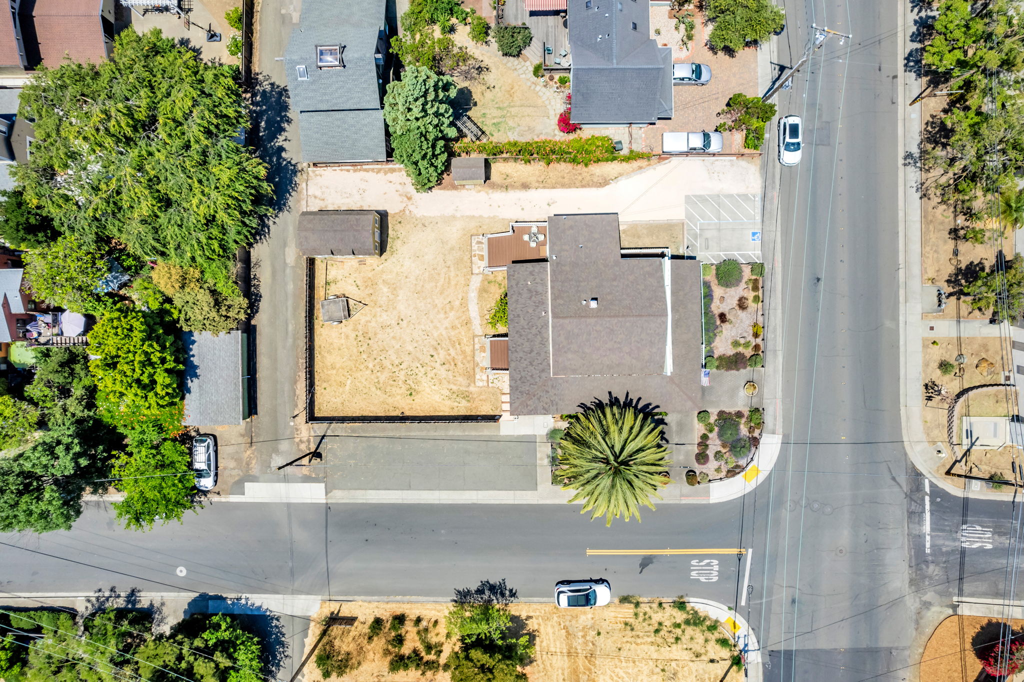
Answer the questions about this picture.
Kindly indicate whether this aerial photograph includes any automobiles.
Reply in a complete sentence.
Yes, there is an automobile in the image.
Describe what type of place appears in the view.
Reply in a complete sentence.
This looks like a residential area.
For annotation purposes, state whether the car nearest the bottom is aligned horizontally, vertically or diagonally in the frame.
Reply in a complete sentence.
From this overhead view, the car nearest the bottom appears to run horizontally.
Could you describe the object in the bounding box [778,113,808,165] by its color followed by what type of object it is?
white car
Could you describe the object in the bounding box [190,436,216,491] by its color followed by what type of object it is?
white car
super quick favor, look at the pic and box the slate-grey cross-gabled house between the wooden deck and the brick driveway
[567,0,673,129]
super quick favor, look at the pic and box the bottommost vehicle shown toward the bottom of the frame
[555,579,611,608]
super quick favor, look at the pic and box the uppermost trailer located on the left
[320,293,366,324]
